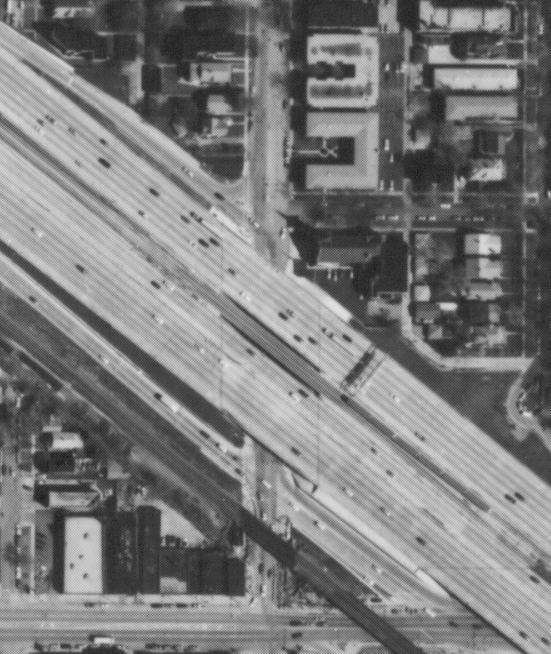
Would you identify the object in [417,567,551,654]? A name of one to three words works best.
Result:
overpass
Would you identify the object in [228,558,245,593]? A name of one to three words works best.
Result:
building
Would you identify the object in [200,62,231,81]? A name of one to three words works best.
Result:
house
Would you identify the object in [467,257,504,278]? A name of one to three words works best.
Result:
house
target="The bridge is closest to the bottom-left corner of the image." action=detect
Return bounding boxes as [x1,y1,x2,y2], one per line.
[238,506,292,568]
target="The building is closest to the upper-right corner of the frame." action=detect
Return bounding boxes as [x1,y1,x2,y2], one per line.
[485,6,511,30]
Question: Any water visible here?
No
